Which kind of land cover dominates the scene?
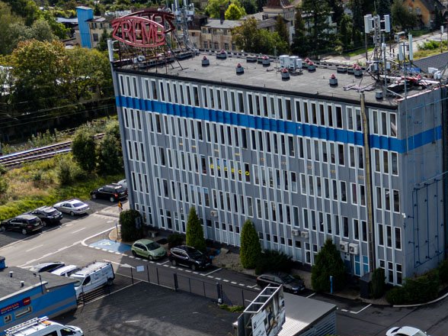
buildings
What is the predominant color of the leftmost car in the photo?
black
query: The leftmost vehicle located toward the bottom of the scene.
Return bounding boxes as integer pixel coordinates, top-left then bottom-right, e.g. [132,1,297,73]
[0,211,42,234]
